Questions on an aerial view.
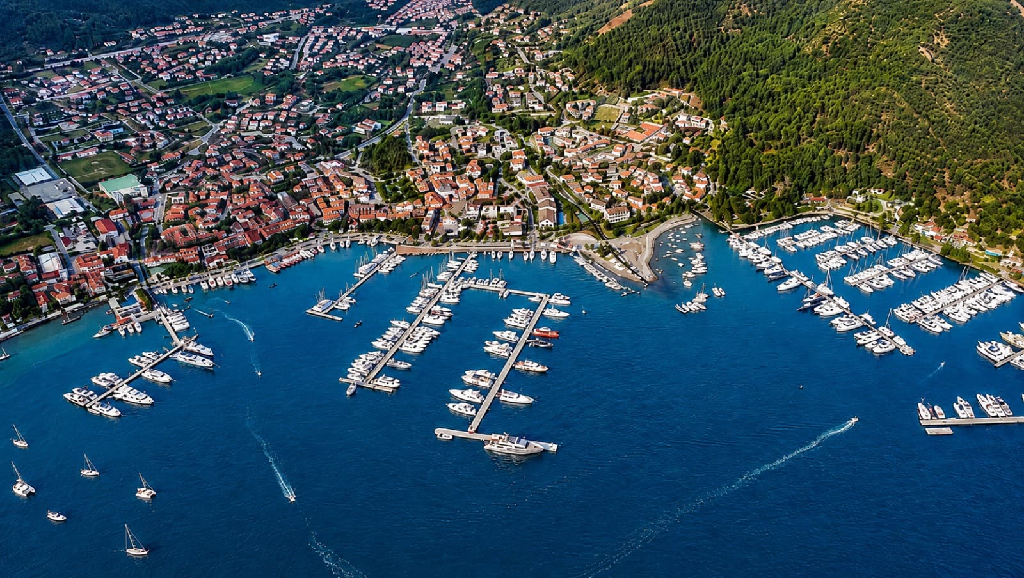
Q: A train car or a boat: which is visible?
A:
boat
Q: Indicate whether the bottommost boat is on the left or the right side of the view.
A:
left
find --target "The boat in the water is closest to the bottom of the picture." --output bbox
[124,534,148,557]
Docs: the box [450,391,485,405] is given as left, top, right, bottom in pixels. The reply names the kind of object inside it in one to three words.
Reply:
boat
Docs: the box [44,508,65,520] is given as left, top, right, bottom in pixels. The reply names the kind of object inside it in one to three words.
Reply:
boat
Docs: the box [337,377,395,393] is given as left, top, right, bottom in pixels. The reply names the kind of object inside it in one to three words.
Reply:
pier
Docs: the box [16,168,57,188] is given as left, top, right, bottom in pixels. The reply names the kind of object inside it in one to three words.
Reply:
building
